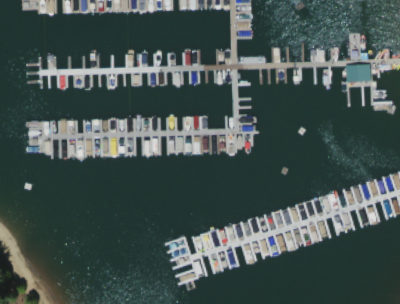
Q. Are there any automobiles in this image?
No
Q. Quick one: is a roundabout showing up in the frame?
No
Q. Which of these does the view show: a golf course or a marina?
marina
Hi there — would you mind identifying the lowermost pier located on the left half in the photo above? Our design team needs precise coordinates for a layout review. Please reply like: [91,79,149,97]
[28,116,260,158]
